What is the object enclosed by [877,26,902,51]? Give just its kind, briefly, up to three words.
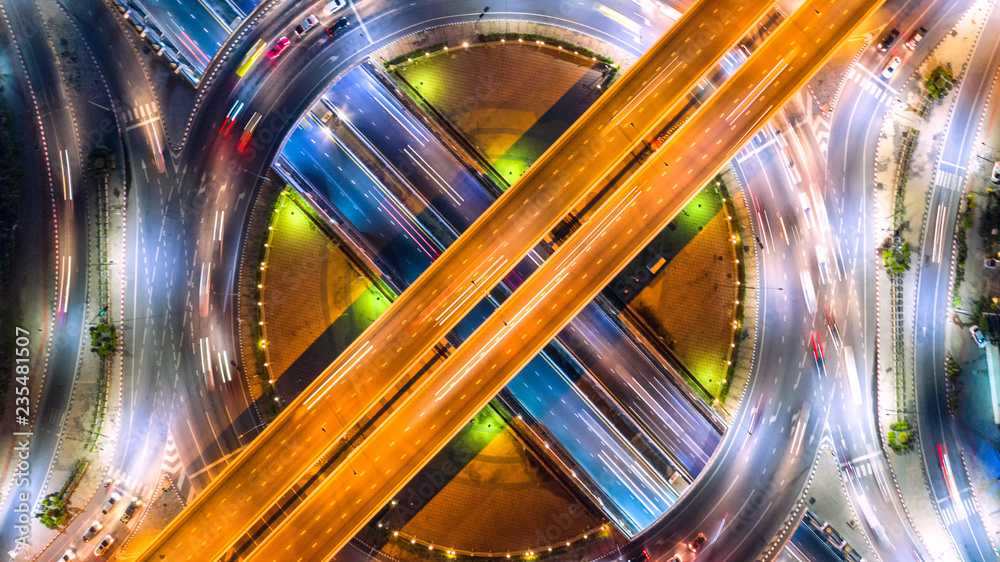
truck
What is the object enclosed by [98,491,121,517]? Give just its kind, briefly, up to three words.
truck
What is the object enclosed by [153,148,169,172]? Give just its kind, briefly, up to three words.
car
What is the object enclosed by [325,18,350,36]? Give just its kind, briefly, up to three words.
car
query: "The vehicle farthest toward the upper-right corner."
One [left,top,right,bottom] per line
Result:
[905,24,930,50]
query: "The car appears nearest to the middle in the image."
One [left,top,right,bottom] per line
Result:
[505,266,524,286]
